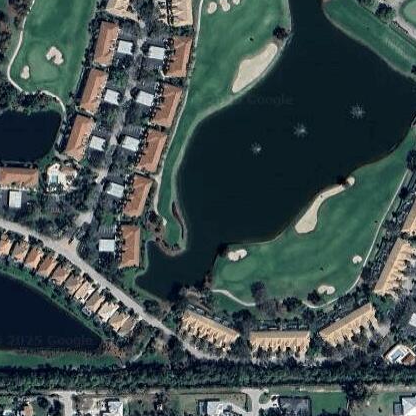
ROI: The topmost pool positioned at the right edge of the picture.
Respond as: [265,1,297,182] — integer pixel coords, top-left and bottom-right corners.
[385,344,416,363]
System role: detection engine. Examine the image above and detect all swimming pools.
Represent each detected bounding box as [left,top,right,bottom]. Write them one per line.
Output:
[385,344,416,363]
[393,403,401,414]
[48,163,77,191]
